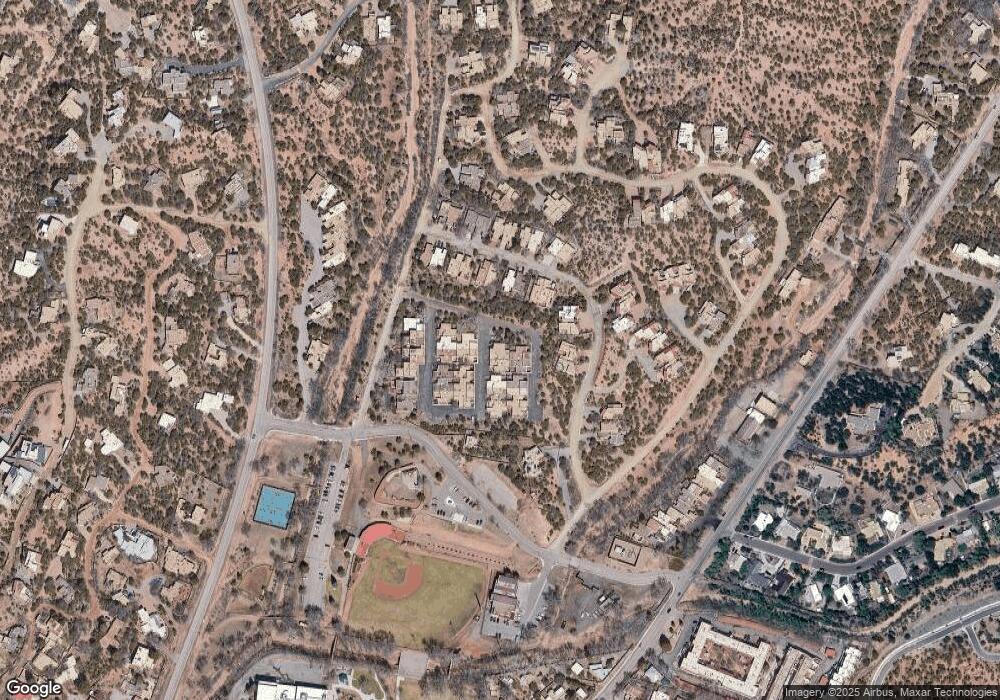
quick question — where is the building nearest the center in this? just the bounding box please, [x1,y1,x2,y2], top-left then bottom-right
[488,343,530,373]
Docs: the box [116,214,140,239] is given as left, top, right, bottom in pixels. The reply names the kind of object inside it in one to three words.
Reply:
house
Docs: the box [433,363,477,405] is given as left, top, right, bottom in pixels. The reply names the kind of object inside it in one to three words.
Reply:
building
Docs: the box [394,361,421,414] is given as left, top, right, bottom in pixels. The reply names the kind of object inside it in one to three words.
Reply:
building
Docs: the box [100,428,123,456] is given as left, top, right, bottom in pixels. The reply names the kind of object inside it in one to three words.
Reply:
house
